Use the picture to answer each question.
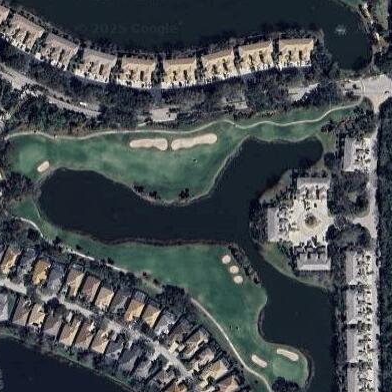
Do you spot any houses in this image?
Yes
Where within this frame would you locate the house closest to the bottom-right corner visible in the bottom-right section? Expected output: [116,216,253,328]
[343,368,364,392]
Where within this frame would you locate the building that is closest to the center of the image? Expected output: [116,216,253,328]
[268,207,288,241]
